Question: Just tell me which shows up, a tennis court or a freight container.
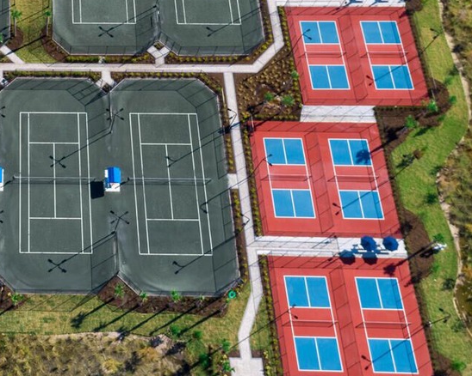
tennis court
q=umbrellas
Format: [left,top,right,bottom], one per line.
[381,235,399,251]
[358,235,375,250]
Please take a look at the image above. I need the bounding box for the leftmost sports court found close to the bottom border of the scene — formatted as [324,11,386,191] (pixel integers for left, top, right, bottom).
[269,256,359,376]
